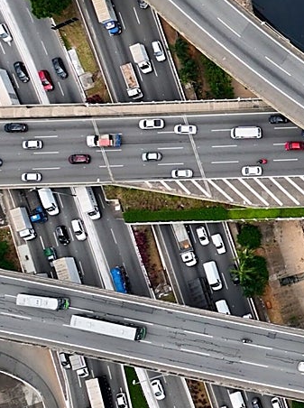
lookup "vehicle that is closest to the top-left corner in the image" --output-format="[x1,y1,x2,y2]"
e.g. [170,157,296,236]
[0,23,13,44]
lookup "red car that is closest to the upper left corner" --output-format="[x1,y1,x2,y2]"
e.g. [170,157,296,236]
[38,69,54,90]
